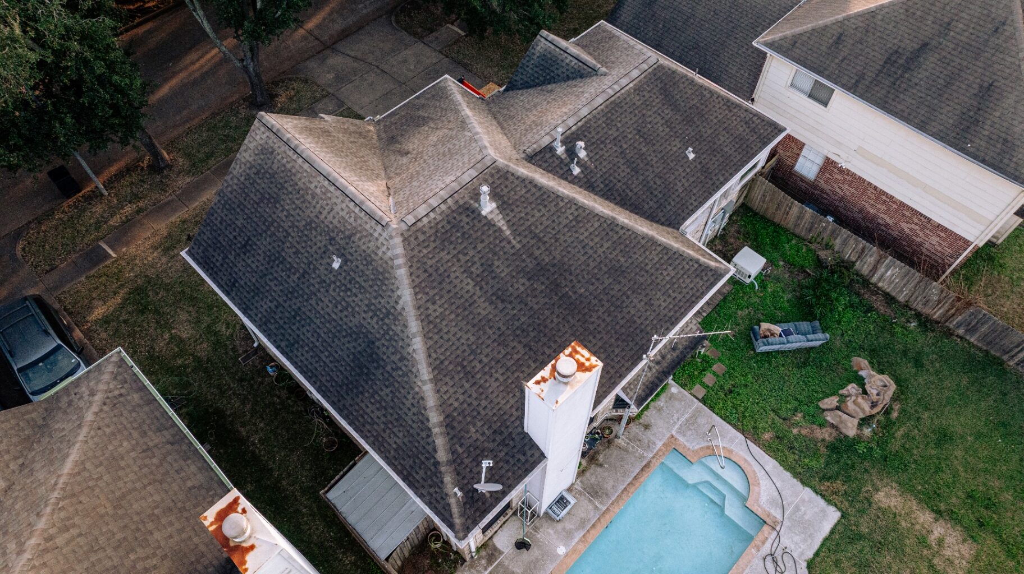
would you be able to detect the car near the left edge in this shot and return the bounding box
[0,296,93,409]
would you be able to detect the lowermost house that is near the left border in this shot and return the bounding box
[0,349,323,574]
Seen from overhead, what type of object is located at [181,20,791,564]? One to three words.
house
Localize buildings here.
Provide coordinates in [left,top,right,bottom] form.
[0,349,323,574]
[181,20,791,564]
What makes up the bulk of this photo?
buildings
